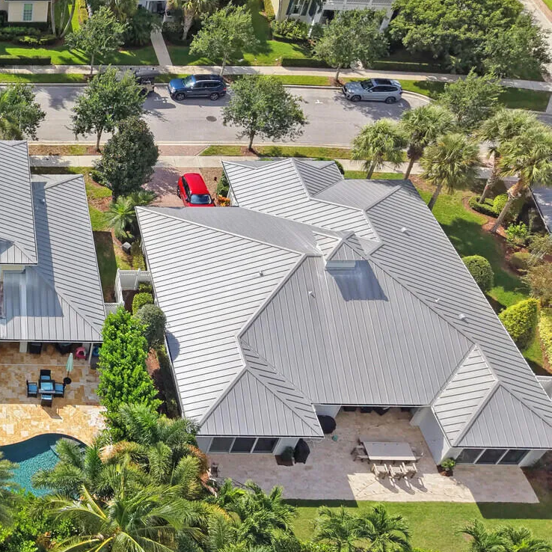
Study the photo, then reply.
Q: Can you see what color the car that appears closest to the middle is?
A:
red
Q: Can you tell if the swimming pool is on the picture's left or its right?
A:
left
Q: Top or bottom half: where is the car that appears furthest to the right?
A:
top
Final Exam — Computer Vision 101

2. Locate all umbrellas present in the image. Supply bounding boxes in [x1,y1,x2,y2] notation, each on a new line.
[61,354,74,385]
